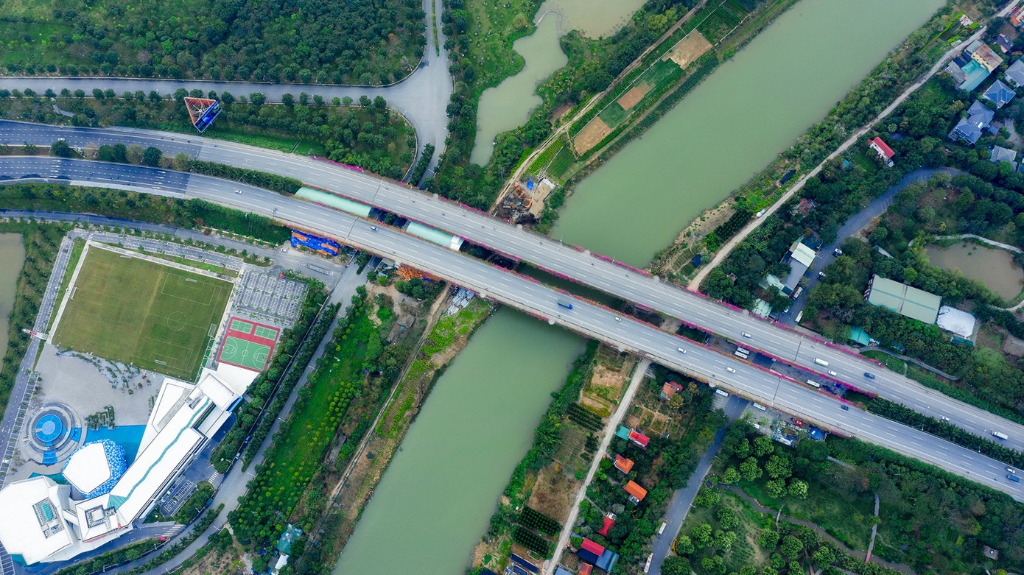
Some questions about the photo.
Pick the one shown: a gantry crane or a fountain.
fountain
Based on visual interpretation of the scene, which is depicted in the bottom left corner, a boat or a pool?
pool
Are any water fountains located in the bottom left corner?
Yes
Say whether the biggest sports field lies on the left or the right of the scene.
left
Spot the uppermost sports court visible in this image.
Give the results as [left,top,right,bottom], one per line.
[217,316,280,371]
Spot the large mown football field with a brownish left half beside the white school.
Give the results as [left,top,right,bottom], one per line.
[47,241,239,383]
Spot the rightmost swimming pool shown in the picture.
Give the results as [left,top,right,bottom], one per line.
[83,425,146,471]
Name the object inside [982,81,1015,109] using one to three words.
house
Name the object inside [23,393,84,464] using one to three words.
fountain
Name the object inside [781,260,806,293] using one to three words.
building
